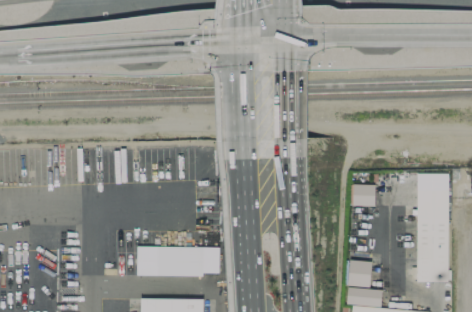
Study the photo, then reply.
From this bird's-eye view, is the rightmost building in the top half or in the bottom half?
bottom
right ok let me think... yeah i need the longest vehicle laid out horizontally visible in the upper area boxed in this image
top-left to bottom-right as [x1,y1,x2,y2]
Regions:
[274,31,318,48]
